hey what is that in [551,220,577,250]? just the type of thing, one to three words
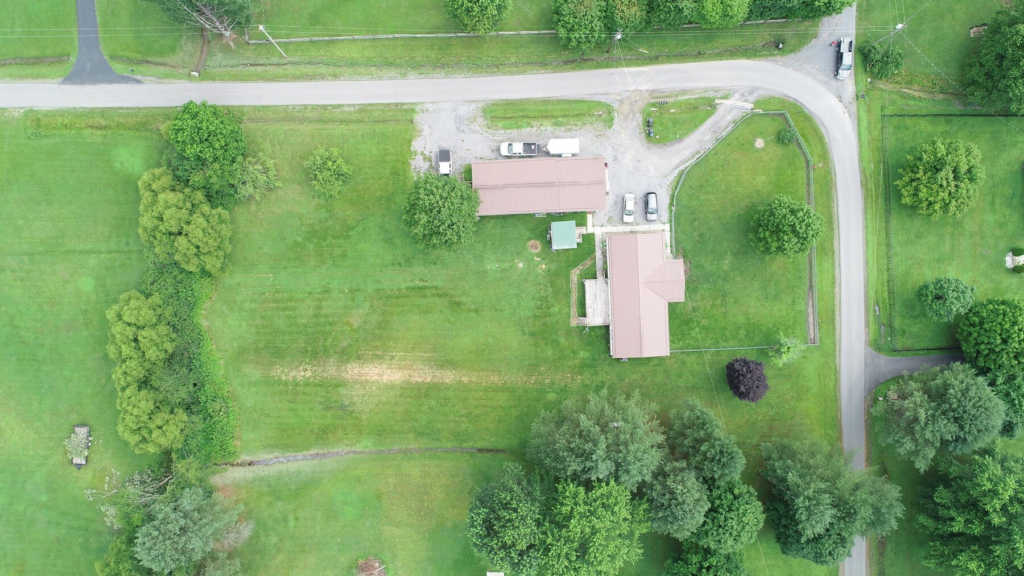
shed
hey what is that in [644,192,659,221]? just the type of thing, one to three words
car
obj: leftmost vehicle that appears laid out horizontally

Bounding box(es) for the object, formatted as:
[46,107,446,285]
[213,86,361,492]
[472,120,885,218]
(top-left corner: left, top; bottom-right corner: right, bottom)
[499,142,539,157]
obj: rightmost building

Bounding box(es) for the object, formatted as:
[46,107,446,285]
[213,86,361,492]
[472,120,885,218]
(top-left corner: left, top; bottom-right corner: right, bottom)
[606,232,686,359]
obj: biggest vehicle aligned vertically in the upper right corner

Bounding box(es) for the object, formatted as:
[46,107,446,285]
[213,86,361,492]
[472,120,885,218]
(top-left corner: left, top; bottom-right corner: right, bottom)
[834,39,852,80]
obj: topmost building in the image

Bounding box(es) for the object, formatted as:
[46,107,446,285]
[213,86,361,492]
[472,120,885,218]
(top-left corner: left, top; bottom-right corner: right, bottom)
[472,156,606,217]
